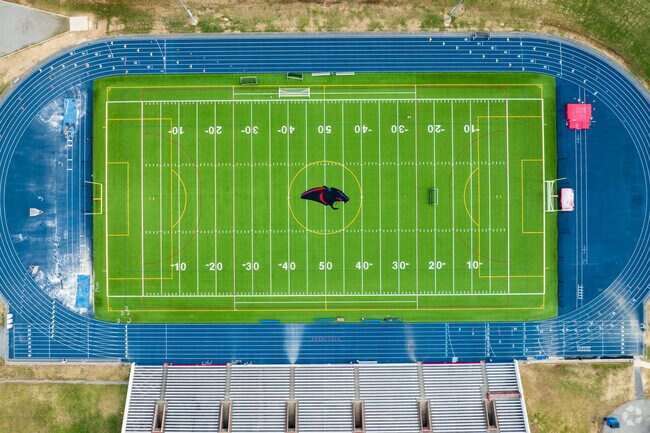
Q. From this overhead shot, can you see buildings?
No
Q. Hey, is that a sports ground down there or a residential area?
sports ground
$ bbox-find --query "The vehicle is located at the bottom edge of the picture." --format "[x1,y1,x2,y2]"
[605,416,622,430]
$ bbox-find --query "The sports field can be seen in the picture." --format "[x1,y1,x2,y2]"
[91,70,559,324]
